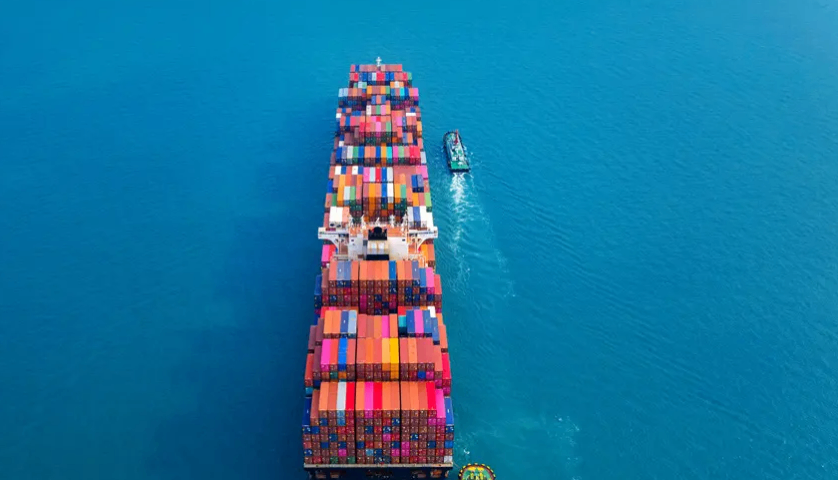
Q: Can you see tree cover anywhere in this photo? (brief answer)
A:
No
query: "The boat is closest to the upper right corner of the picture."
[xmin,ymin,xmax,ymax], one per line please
[443,128,471,172]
